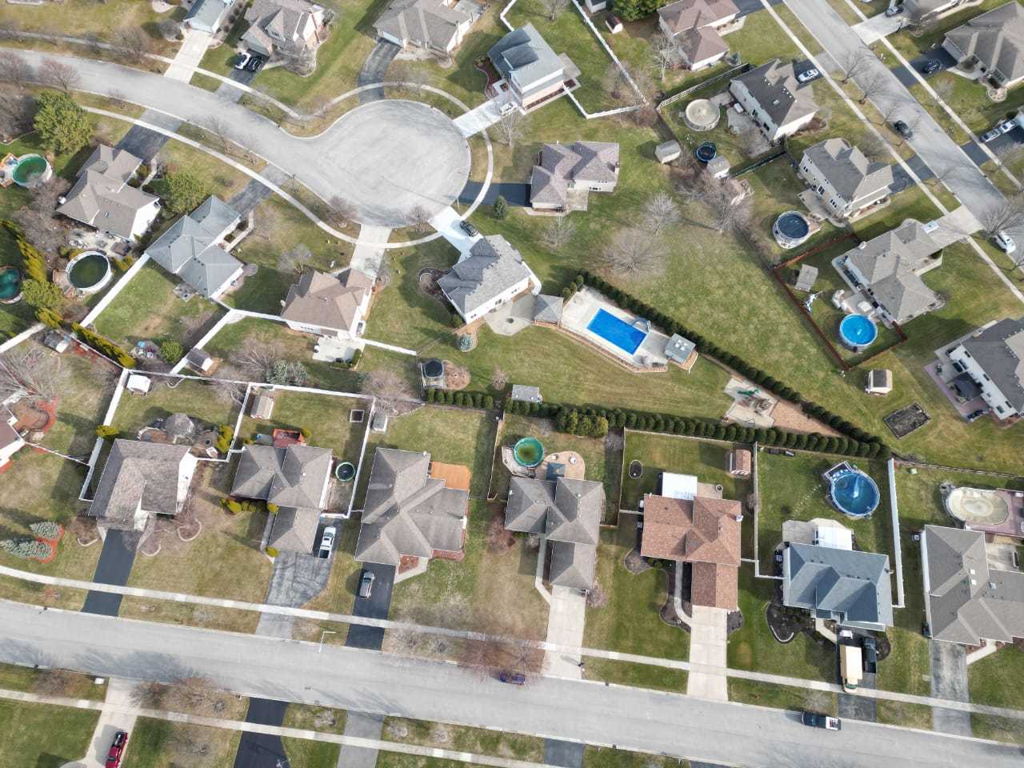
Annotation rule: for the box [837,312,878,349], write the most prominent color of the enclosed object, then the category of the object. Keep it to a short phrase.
blue swimming pool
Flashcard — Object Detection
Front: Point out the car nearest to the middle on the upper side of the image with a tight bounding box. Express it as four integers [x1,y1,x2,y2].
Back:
[459,217,480,238]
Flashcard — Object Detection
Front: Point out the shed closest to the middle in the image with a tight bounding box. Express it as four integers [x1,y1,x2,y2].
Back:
[513,384,543,403]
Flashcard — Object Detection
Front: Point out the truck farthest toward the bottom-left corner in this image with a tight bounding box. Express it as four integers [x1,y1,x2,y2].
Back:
[103,732,126,768]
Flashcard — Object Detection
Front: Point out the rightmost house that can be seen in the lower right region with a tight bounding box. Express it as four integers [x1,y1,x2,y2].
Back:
[916,525,1024,647]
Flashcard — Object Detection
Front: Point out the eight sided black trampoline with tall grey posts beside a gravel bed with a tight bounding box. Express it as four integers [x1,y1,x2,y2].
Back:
[420,359,443,381]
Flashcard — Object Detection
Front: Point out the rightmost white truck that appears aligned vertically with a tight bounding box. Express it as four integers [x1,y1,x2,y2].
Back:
[844,640,866,692]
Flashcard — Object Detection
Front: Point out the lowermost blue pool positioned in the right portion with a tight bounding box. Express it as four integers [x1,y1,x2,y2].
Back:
[827,467,879,515]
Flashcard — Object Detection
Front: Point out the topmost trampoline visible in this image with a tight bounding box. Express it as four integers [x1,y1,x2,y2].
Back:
[696,137,718,160]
